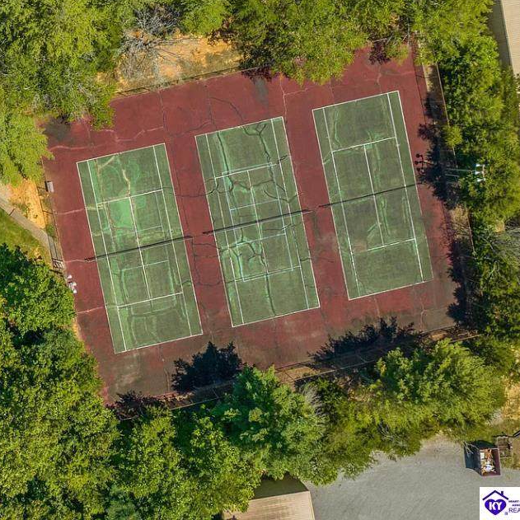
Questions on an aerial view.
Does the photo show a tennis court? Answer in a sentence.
Yes, there's a tennis court here.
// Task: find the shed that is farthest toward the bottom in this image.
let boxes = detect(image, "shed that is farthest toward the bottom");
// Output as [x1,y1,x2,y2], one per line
[233,481,314,520]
